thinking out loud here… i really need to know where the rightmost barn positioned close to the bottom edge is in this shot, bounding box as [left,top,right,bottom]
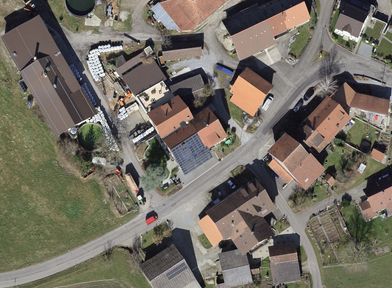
[268,242,302,286]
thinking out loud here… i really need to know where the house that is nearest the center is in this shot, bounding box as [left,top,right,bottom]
[148,97,228,176]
